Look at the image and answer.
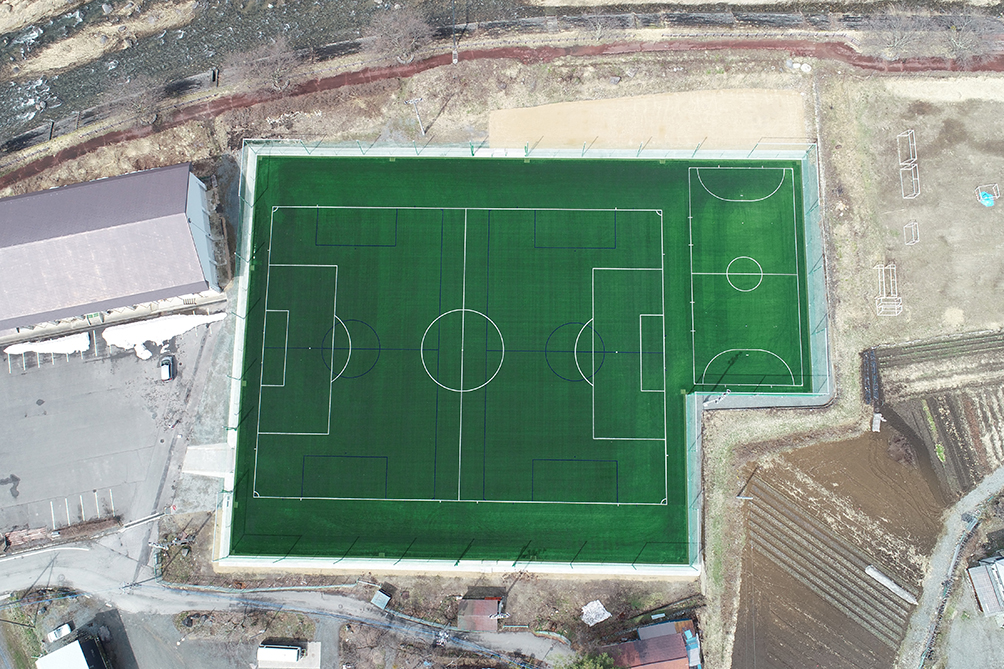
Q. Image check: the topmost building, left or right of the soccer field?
to the left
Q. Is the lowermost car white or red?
white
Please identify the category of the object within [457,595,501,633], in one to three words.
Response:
shed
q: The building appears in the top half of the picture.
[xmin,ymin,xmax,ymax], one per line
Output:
[0,160,223,330]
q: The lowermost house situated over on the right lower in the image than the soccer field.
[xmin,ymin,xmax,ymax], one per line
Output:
[593,617,703,669]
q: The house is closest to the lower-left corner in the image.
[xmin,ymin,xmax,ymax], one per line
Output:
[36,630,123,669]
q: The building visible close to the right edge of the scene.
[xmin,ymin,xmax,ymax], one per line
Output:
[959,549,1004,615]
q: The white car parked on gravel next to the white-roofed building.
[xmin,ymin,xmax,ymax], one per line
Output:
[48,623,74,643]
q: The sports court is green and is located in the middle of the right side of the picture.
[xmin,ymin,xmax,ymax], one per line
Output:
[674,160,812,391]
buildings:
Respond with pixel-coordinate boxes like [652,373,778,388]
[372,589,392,609]
[593,617,703,669]
[457,595,501,633]
[0,160,223,330]
[36,630,123,669]
[959,549,1004,615]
